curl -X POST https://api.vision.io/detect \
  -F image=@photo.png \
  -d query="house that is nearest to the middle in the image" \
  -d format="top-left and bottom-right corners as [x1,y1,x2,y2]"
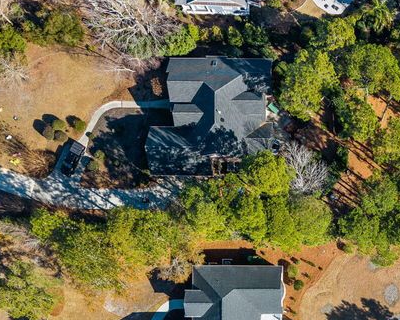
[138,57,280,176]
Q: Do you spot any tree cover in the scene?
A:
Yes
